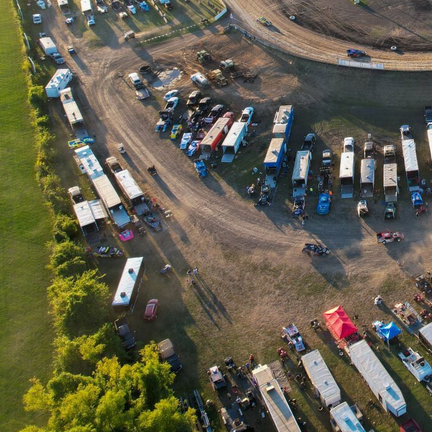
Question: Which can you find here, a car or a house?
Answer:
car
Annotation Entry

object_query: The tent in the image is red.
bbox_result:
[317,302,366,359]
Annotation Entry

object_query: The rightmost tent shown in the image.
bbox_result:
[377,322,406,354]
